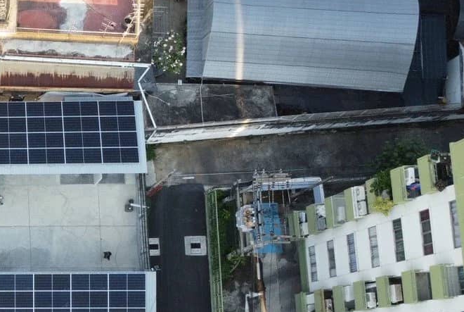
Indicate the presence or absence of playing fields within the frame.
No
